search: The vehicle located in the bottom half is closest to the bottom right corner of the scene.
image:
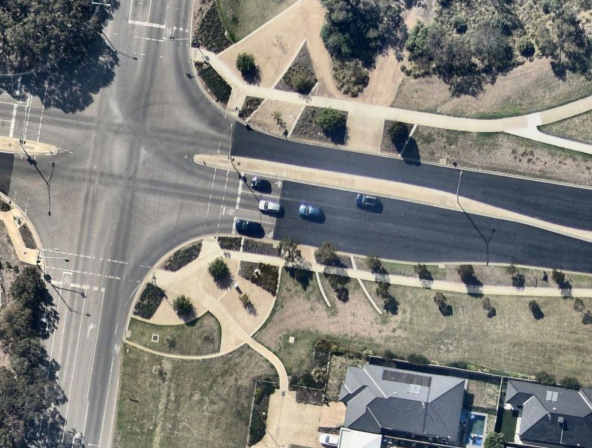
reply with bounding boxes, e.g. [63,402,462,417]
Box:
[316,434,339,448]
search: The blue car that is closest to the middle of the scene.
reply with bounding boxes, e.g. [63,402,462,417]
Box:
[299,204,325,218]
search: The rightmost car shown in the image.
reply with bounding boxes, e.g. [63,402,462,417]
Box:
[354,193,381,209]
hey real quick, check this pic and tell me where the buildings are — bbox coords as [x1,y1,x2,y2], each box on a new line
[505,380,592,448]
[339,364,466,446]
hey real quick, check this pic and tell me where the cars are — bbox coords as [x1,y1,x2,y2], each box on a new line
[316,434,339,448]
[251,177,273,190]
[258,199,284,213]
[235,219,264,234]
[299,204,325,218]
[354,193,381,209]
